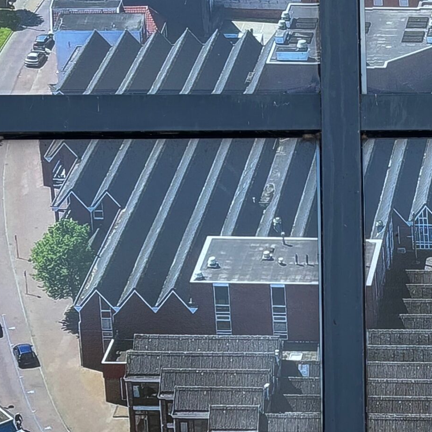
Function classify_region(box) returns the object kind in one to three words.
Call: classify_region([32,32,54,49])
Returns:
car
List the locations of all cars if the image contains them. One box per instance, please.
[14,344,39,370]
[21,50,48,69]
[32,32,54,49]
